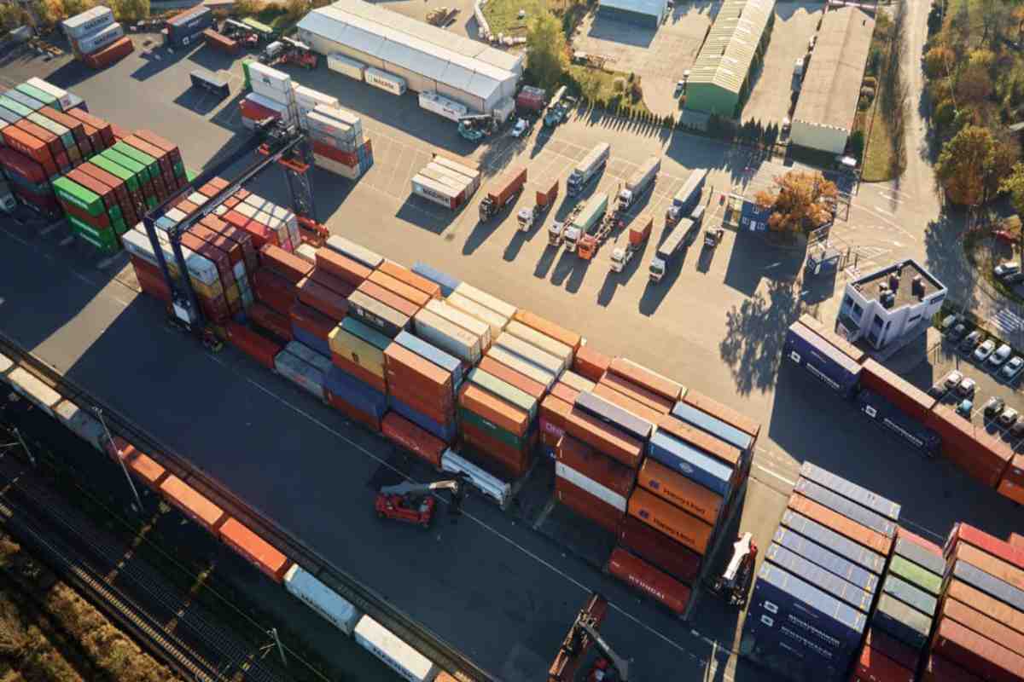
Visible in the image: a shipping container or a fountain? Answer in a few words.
shipping container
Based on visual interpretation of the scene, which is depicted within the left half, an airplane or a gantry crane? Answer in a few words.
gantry crane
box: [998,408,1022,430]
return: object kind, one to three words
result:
car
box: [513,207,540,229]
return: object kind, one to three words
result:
truck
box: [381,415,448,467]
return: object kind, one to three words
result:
shipping container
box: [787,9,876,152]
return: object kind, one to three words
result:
building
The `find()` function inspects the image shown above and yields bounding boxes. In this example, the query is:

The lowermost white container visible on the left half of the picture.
[356,616,438,682]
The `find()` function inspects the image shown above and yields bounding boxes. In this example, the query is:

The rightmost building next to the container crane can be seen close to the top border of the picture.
[289,0,527,115]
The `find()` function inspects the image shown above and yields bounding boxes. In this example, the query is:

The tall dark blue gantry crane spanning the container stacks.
[133,113,330,348]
